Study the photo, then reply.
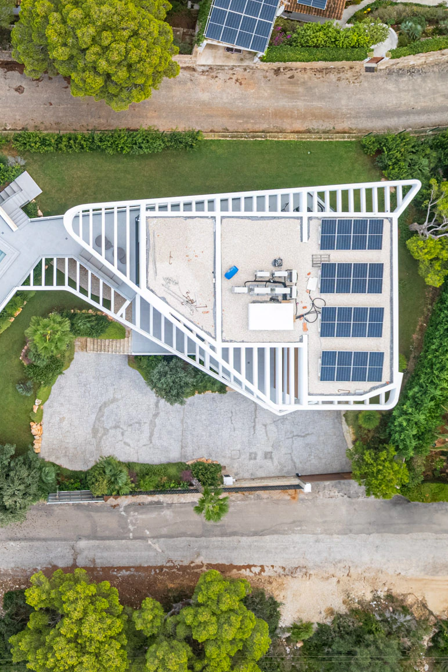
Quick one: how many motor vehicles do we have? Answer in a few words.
none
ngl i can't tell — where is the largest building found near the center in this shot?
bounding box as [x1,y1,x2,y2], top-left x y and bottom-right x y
[15,180,421,415]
